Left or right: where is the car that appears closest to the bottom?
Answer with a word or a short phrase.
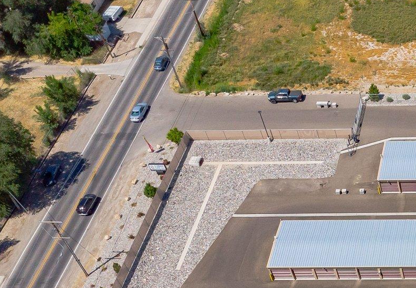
left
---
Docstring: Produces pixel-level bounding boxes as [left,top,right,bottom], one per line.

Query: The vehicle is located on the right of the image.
[267,89,301,104]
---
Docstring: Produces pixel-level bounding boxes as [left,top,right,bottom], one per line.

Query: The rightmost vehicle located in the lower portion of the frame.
[75,193,97,213]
